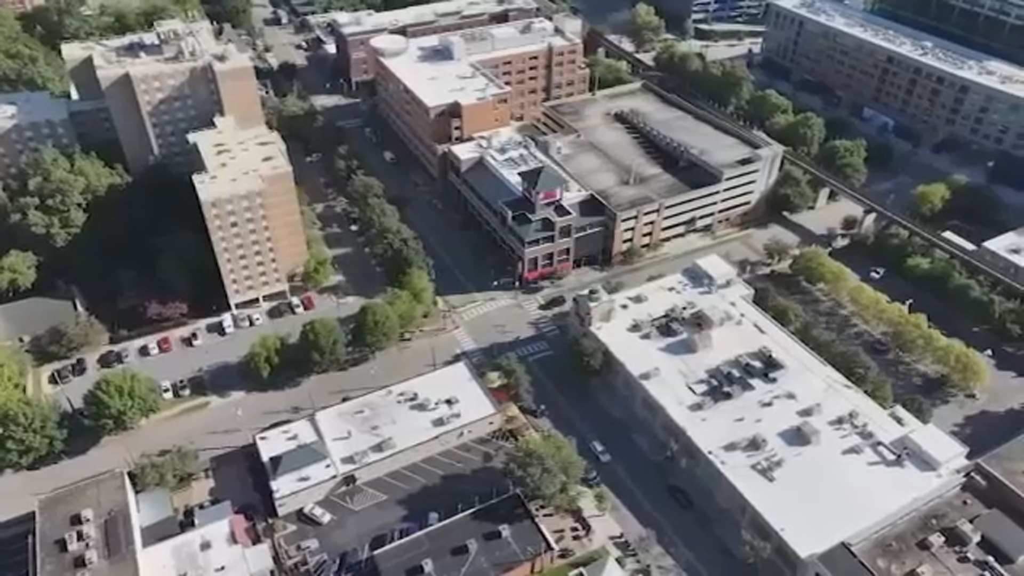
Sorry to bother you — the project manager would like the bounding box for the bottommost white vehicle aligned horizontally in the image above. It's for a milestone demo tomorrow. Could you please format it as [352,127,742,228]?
[299,506,334,524]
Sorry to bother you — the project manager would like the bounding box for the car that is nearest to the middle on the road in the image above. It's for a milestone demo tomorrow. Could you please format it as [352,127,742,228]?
[540,294,564,311]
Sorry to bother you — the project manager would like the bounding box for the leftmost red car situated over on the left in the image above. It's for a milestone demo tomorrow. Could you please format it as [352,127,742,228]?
[158,335,171,354]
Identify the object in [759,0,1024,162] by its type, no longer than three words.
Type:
building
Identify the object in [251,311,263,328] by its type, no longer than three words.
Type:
vehicle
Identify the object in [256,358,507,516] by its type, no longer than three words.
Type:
building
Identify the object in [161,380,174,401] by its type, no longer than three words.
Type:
vehicle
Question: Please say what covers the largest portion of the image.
buildings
